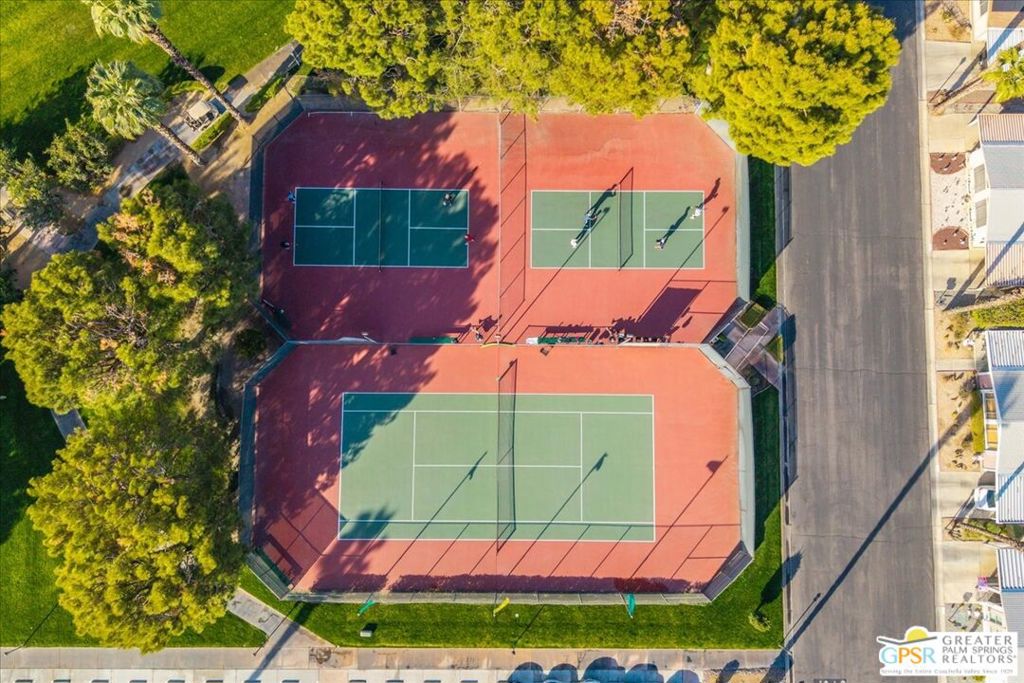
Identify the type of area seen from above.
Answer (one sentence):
The area seen from above is a sports ground.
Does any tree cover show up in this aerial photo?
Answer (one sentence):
Yes, there's tree cover in this view.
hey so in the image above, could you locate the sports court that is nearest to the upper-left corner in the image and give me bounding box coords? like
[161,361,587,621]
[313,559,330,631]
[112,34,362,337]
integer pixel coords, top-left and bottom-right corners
[263,112,499,343]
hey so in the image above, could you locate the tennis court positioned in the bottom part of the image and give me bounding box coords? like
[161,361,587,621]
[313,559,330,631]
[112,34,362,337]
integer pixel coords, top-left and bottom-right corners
[255,344,742,593]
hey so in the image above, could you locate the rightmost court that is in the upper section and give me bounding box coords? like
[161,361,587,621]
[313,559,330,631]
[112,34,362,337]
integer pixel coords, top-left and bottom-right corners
[500,112,737,343]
